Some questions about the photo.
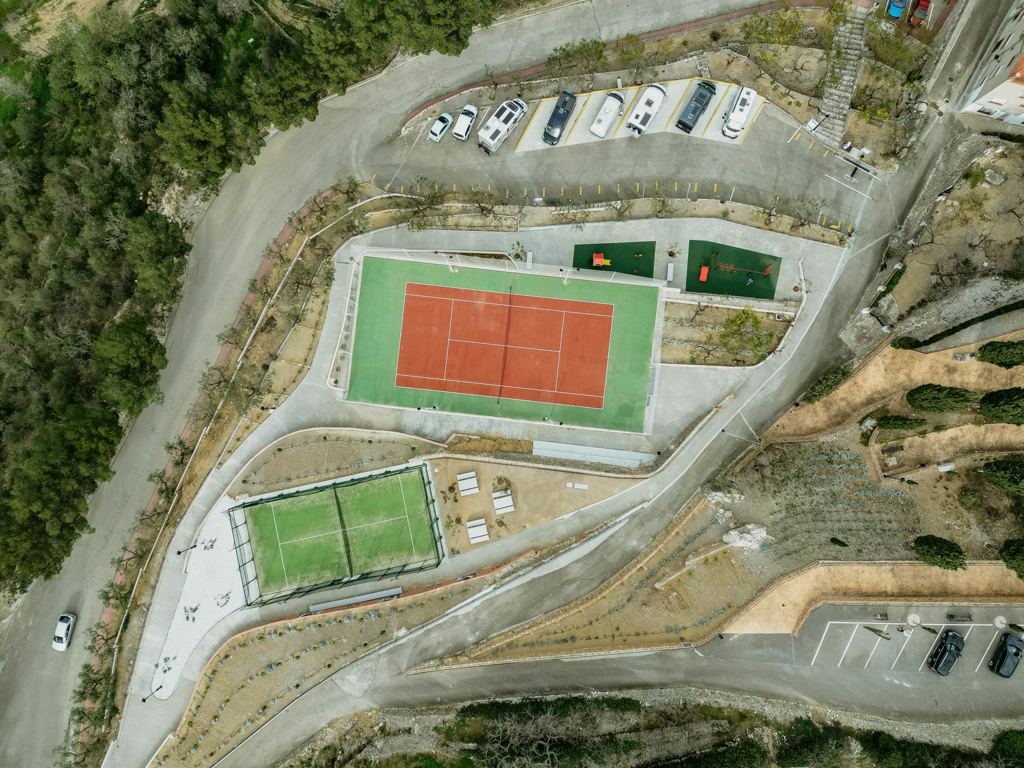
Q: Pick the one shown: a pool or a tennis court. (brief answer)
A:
tennis court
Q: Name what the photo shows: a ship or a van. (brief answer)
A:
van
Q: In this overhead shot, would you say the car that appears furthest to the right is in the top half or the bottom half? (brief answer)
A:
bottom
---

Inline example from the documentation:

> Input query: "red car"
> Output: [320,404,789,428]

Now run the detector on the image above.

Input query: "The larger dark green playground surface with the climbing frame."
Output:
[686,240,782,300]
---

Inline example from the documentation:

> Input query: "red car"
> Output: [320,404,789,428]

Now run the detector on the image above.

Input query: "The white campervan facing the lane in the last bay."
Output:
[722,86,756,141]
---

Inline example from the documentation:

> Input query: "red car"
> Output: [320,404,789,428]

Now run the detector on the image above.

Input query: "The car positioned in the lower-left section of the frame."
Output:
[50,612,78,652]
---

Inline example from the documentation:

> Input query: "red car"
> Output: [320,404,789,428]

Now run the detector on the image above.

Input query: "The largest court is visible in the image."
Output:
[348,259,658,431]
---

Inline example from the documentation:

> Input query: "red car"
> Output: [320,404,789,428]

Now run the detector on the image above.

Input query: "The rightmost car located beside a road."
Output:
[990,633,1024,680]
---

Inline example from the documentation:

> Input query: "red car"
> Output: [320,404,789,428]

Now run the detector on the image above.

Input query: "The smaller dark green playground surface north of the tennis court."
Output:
[573,241,656,279]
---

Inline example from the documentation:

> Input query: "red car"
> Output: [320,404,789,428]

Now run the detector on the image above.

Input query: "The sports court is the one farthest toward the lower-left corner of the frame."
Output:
[229,463,445,608]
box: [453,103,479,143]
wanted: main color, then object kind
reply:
white car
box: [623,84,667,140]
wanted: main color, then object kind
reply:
white camper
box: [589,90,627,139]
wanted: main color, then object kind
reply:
white van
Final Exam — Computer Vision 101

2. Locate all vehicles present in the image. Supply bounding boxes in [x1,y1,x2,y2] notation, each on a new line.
[907,0,935,27]
[722,86,756,141]
[478,97,529,152]
[990,633,1024,680]
[50,612,78,652]
[623,84,667,140]
[886,0,911,21]
[429,112,454,143]
[589,90,627,139]
[930,631,966,678]
[676,79,717,134]
[453,103,479,143]
[543,94,576,147]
